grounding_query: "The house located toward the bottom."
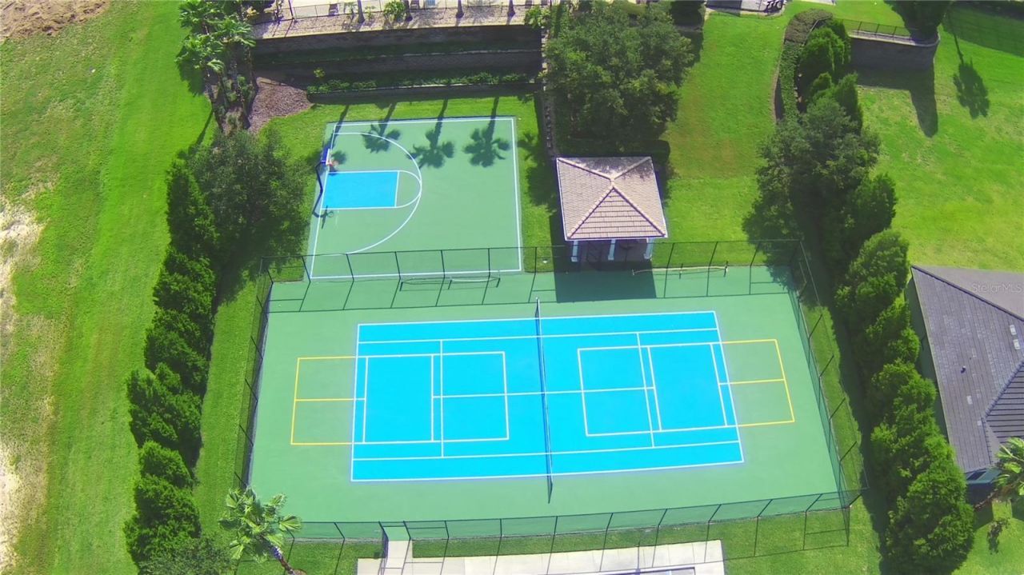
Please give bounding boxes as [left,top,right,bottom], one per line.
[903,267,1024,495]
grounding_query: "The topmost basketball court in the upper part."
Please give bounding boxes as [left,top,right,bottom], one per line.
[305,117,526,280]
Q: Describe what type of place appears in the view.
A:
sports ground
